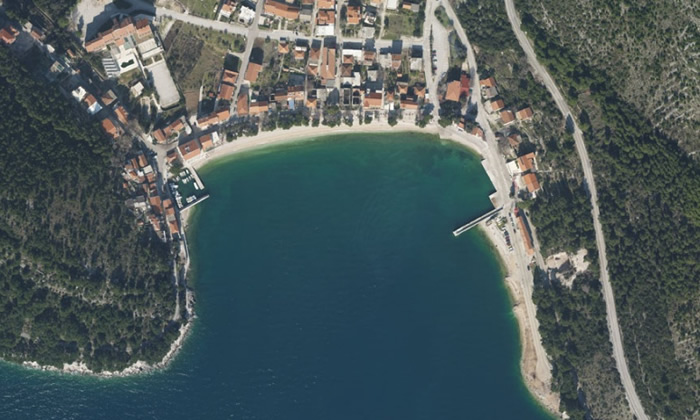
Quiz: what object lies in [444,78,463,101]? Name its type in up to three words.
building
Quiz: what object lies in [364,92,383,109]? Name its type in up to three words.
house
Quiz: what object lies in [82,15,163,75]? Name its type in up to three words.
building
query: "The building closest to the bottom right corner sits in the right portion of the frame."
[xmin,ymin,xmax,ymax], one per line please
[515,213,537,257]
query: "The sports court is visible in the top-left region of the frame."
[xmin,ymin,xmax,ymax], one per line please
[147,60,181,107]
